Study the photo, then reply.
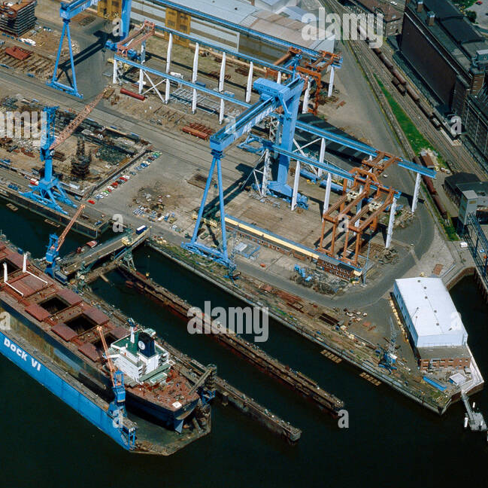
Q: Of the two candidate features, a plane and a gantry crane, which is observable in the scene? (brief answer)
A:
gantry crane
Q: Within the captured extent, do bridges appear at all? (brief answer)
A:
Yes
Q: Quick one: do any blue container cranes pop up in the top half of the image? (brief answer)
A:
Yes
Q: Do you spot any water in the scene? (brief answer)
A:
Yes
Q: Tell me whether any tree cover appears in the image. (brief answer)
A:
No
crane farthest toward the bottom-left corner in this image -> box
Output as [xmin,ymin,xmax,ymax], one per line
[98,327,135,421]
